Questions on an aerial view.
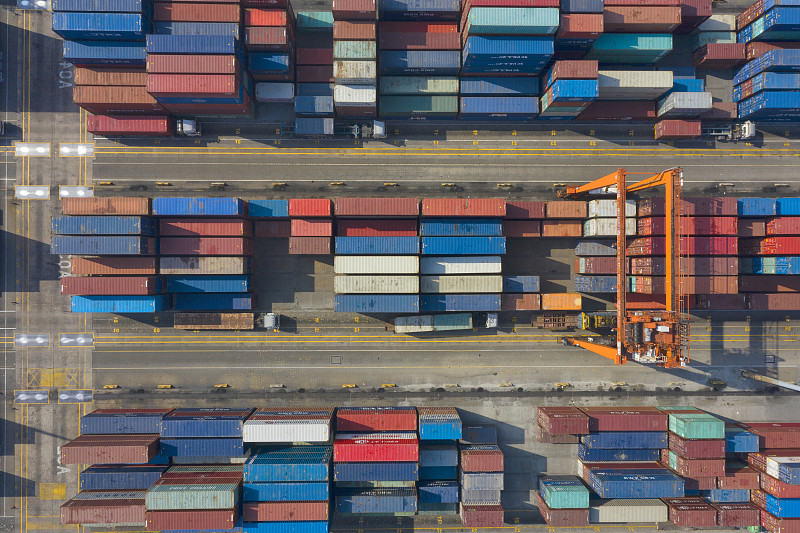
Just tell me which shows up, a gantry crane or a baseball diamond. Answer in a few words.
gantry crane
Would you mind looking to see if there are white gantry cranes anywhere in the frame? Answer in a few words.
No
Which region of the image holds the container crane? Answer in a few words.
right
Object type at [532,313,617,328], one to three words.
vehicle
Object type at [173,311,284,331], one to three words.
vehicle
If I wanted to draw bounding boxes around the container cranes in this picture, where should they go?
[560,166,692,368]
